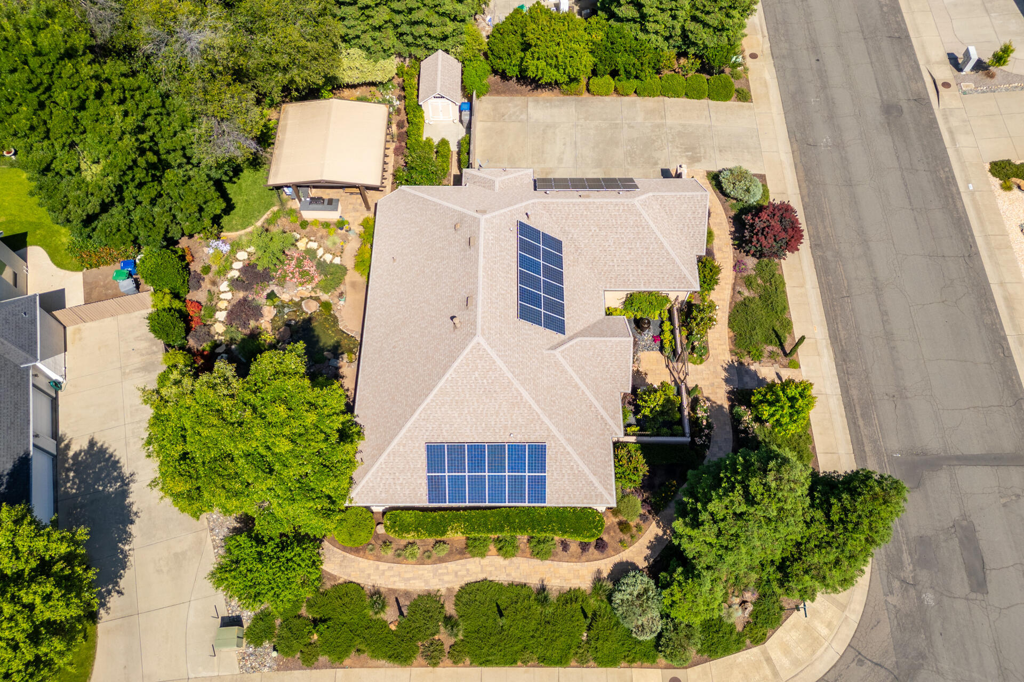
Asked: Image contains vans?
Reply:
No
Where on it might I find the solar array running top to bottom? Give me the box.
[517,220,566,335]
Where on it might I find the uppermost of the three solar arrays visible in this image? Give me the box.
[536,177,640,190]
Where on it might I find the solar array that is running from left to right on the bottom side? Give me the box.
[425,444,547,504]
